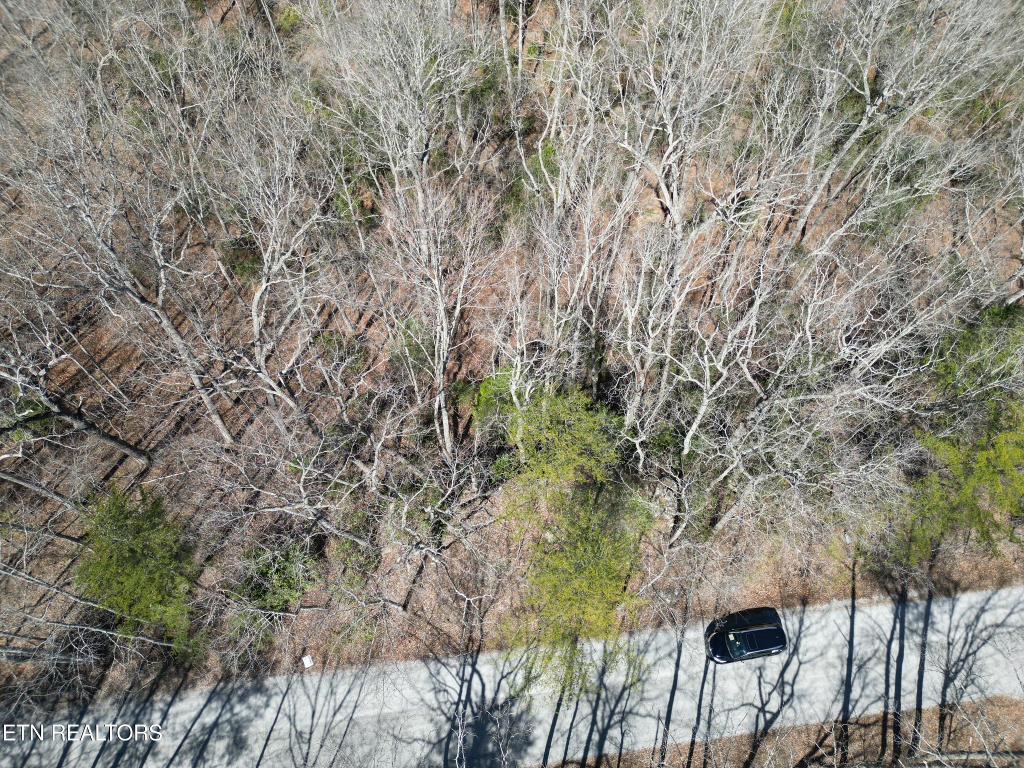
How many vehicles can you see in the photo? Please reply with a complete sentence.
My tally gives 1 vehicle in this photo.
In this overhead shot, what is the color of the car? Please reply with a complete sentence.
From above, the car appears black.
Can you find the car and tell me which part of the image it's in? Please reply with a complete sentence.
The car is located in the bottom right region of the scene.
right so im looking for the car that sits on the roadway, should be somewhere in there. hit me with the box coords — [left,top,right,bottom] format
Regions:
[706,619,790,662]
